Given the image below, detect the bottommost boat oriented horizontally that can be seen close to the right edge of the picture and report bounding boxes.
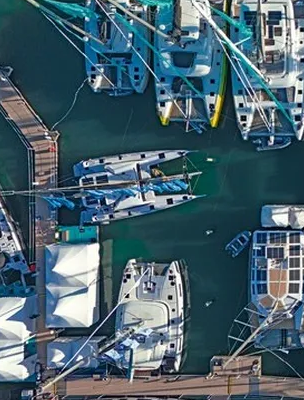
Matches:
[253,135,292,151]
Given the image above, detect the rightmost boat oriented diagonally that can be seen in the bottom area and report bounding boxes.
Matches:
[220,229,251,261]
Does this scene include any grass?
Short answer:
No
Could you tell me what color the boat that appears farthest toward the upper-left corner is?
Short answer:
blue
